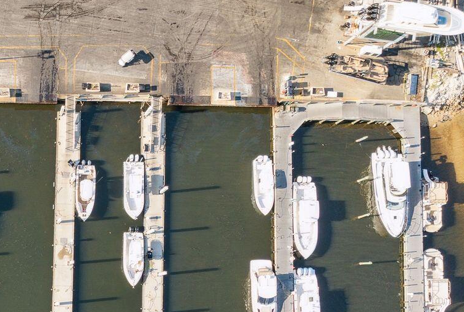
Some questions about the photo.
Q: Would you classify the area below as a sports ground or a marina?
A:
marina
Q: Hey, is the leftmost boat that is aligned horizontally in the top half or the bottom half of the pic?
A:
top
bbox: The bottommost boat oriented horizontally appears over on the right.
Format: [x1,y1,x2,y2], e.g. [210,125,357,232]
[321,55,388,88]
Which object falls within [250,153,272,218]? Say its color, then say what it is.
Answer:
white boat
